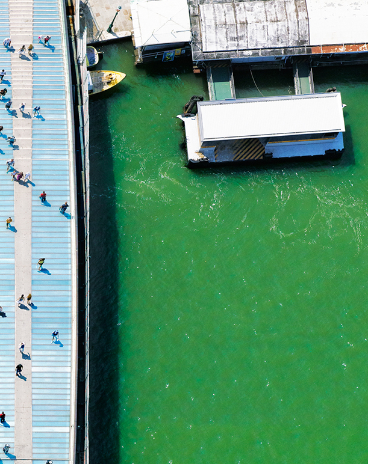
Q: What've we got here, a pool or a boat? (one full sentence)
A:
The image shows a boat.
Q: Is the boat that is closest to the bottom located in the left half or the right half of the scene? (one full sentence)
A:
It is on the left.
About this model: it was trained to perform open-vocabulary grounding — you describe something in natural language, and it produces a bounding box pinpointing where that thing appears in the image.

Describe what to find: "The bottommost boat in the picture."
[85,69,127,95]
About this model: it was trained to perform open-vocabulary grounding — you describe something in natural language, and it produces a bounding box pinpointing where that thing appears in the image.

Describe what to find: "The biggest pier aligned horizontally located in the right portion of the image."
[176,88,350,166]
